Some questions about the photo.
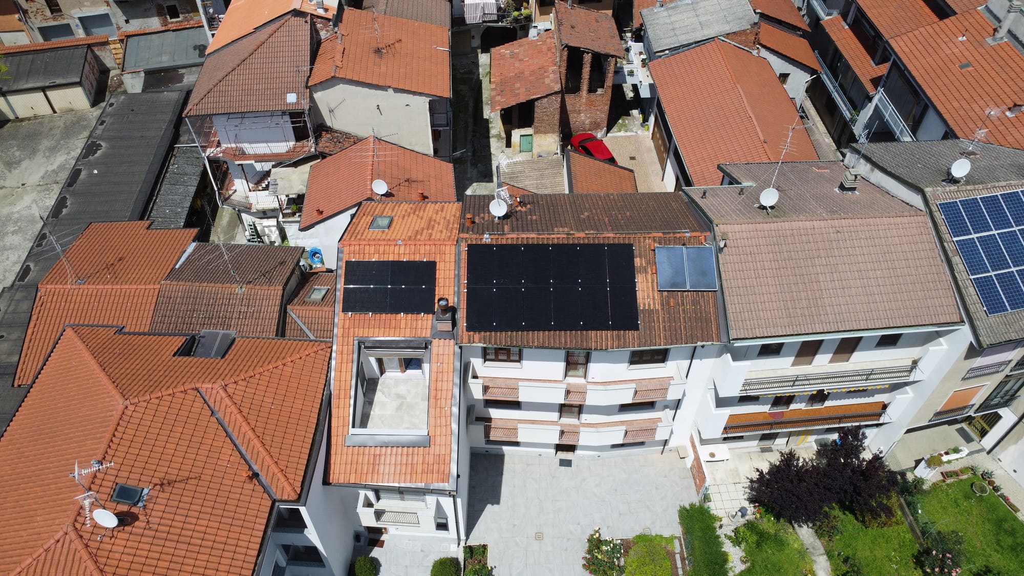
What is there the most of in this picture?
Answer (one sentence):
The scene is dominated by buildings.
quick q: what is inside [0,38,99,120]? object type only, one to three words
building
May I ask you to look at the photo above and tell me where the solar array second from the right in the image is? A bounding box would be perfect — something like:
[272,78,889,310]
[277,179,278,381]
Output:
[656,244,719,289]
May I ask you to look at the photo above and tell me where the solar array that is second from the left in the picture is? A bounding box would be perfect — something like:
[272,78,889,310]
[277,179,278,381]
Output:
[466,242,642,330]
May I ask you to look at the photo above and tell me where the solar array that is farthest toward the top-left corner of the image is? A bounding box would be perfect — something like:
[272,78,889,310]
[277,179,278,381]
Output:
[341,258,436,315]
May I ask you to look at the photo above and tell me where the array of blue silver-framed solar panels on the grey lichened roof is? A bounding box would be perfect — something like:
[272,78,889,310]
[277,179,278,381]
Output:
[940,188,1024,314]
